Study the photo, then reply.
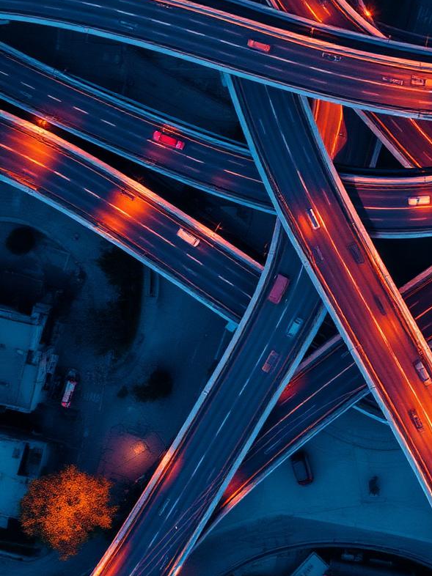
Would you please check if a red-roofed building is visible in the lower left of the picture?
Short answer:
No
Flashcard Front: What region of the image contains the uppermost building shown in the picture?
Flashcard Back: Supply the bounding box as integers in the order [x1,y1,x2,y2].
[0,294,65,408]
